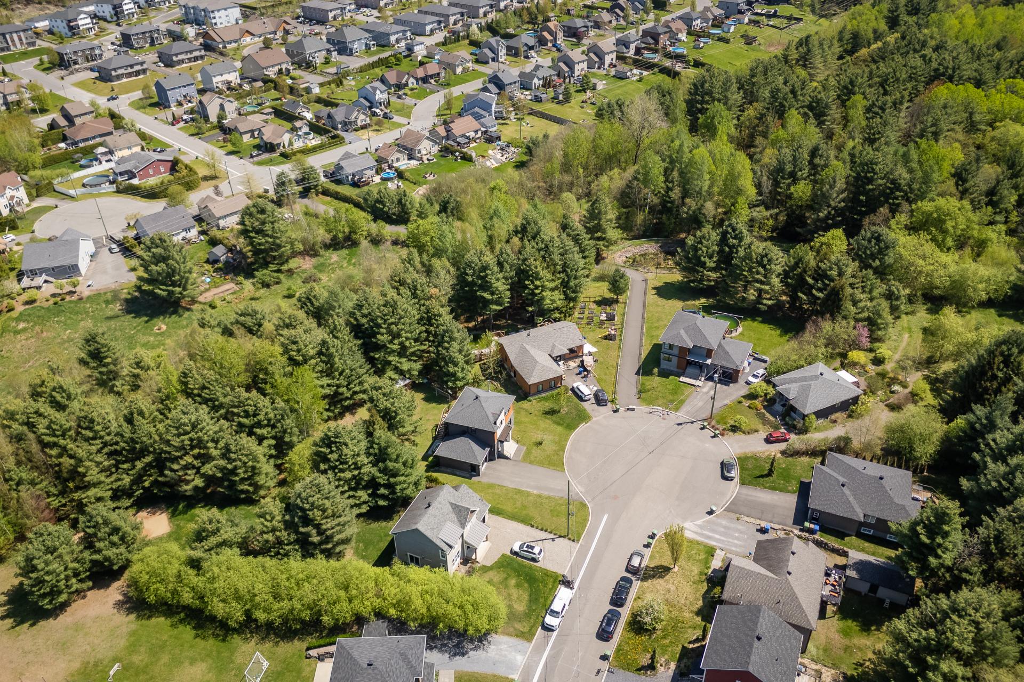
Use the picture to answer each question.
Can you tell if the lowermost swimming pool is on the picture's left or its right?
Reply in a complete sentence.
The lowermost swimming pool appears in the right half of the scene.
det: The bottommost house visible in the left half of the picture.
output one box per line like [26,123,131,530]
[330,621,435,682]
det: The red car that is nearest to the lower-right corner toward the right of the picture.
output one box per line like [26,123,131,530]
[766,432,793,446]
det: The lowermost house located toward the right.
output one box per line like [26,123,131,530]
[698,605,818,682]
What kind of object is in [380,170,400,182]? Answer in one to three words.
swimming pool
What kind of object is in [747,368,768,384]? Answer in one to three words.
car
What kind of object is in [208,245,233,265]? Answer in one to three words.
shed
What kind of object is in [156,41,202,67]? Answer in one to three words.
house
